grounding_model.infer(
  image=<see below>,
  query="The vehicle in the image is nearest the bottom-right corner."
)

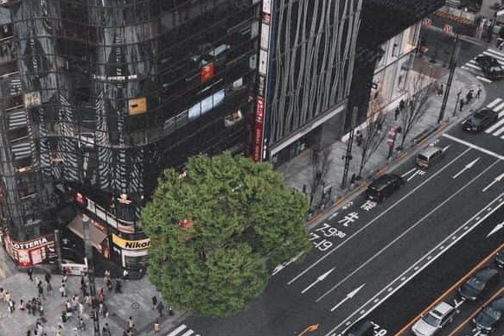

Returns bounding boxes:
[464,295,504,336]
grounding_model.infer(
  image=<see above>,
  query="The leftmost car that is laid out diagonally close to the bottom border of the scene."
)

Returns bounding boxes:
[409,301,458,336]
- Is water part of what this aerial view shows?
No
